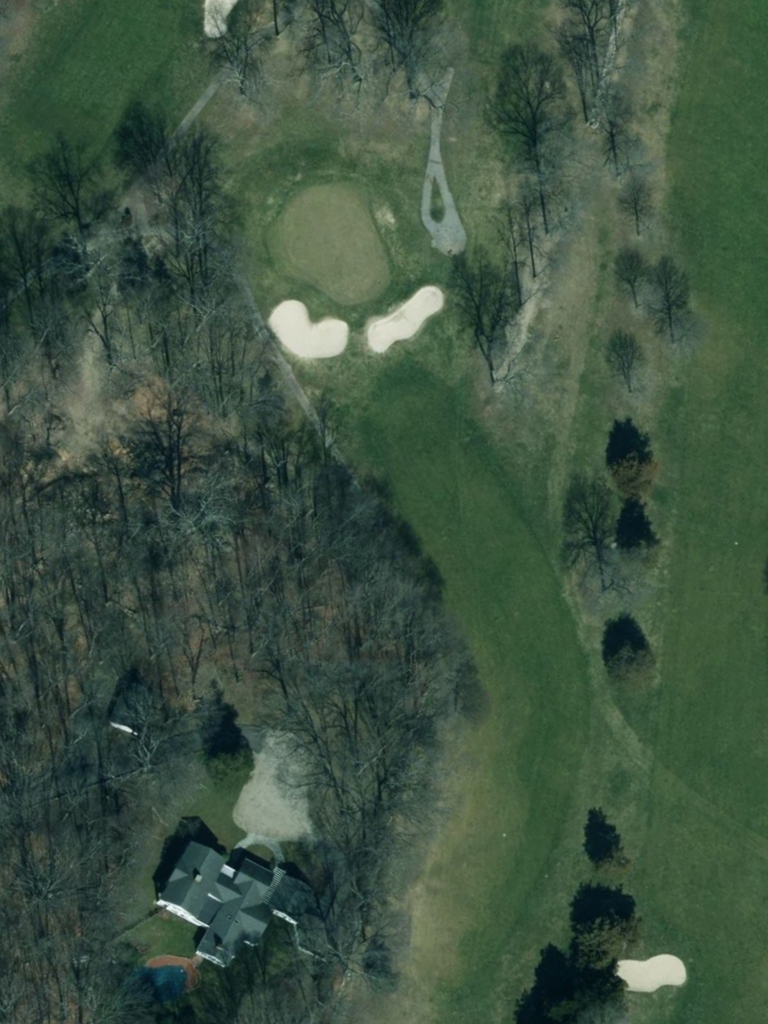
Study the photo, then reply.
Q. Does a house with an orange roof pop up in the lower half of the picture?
No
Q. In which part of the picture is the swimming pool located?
bottom left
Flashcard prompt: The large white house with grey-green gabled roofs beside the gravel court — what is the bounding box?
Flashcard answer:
[160,843,311,966]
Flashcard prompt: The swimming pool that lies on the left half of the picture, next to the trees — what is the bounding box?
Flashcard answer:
[130,954,202,1006]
